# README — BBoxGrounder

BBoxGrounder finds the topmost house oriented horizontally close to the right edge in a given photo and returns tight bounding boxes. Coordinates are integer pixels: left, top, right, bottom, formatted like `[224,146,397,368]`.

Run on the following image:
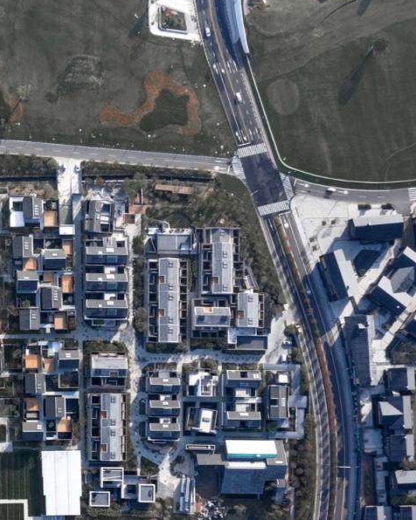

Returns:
[348,215,404,242]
